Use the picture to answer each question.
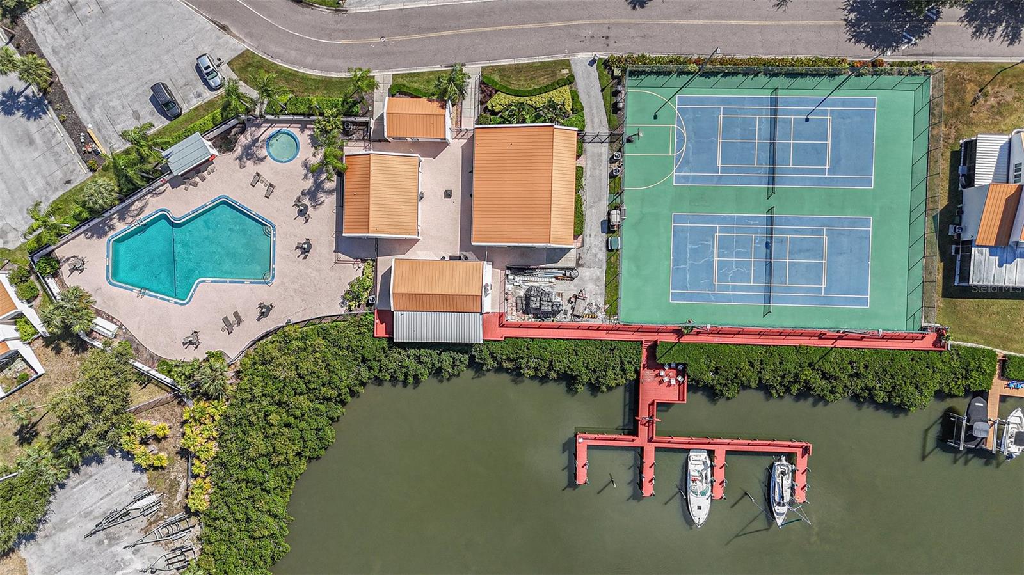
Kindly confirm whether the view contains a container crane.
No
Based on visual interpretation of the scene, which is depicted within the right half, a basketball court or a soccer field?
basketball court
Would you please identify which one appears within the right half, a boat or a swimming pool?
boat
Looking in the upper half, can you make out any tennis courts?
Yes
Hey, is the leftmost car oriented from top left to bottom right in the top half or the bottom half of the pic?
top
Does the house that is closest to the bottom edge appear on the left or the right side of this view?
left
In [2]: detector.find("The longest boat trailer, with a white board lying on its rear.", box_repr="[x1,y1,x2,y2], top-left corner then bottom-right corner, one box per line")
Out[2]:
[79,491,160,540]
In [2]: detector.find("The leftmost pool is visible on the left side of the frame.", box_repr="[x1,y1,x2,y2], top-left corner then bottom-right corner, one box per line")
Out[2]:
[106,197,276,305]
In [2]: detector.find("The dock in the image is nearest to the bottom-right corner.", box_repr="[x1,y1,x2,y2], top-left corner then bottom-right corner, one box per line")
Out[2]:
[982,358,1024,450]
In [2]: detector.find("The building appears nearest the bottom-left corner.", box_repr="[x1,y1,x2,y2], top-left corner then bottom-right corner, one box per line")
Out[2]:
[0,339,52,403]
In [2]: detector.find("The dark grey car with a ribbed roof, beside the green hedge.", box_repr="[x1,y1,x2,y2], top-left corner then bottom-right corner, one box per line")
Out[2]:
[146,78,183,121]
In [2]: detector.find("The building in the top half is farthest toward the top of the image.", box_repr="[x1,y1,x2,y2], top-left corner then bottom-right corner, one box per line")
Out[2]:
[383,97,455,143]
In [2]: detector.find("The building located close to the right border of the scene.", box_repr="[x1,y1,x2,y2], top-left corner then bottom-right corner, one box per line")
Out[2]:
[952,129,1024,287]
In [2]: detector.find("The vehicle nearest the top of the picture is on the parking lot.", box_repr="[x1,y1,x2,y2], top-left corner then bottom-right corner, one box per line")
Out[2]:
[193,50,225,91]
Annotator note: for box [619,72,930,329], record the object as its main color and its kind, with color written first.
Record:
green basketball court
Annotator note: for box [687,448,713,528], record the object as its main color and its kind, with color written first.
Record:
white boat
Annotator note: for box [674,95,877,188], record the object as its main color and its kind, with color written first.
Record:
blue tennis court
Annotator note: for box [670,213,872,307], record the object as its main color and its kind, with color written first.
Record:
blue tennis court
